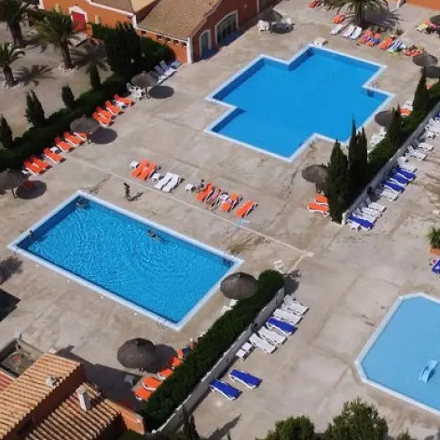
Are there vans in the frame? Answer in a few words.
No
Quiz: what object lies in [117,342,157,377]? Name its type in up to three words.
umbrella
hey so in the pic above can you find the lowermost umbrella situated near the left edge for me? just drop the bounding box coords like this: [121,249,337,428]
[0,170,30,204]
